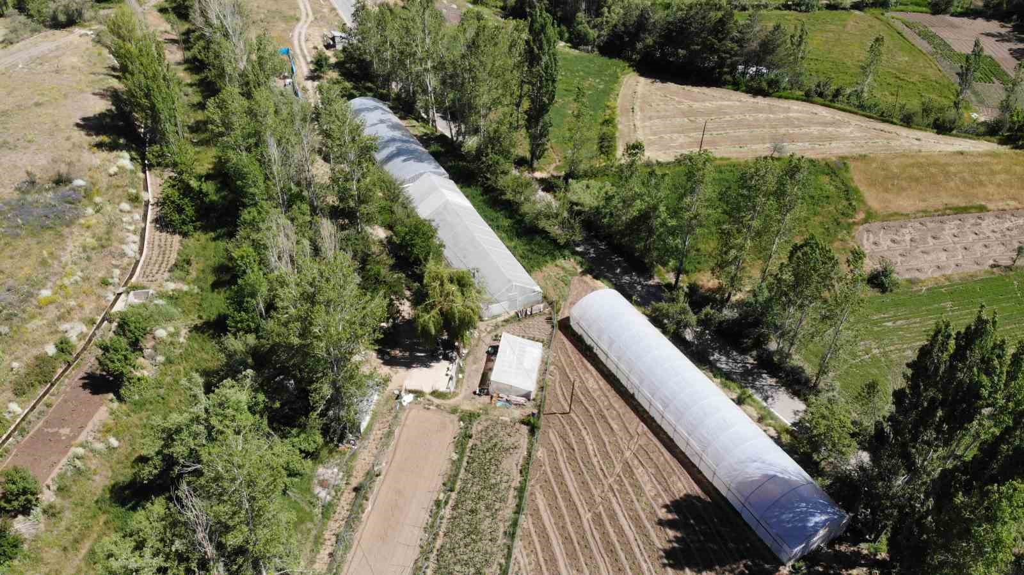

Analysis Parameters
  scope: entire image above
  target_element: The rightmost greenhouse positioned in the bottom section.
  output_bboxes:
[566,287,858,565]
